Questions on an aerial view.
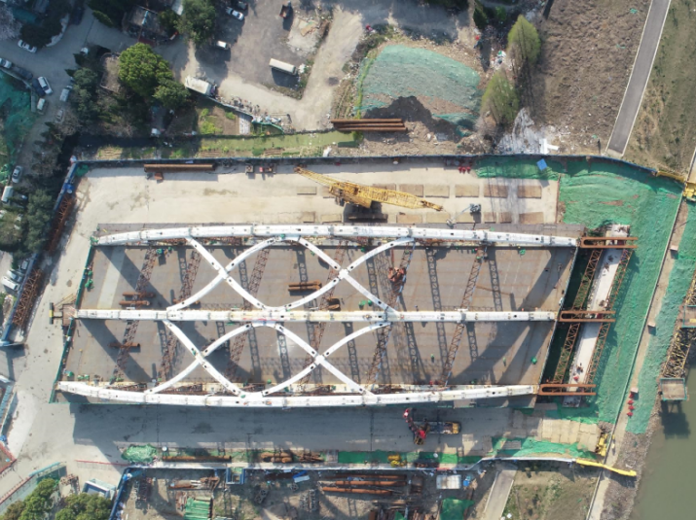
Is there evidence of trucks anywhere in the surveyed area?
Yes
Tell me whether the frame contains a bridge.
Yes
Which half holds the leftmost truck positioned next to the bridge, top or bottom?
bottom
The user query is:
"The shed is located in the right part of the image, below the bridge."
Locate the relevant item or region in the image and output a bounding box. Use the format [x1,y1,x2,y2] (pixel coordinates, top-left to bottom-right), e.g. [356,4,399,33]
[436,474,462,490]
